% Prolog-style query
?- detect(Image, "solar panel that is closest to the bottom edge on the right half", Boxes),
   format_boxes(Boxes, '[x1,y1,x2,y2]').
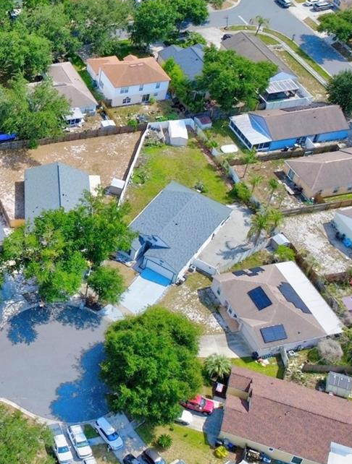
[261,325,287,343]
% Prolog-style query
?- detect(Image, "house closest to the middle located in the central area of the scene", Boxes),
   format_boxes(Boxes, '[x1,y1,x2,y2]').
[119,181,225,287]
